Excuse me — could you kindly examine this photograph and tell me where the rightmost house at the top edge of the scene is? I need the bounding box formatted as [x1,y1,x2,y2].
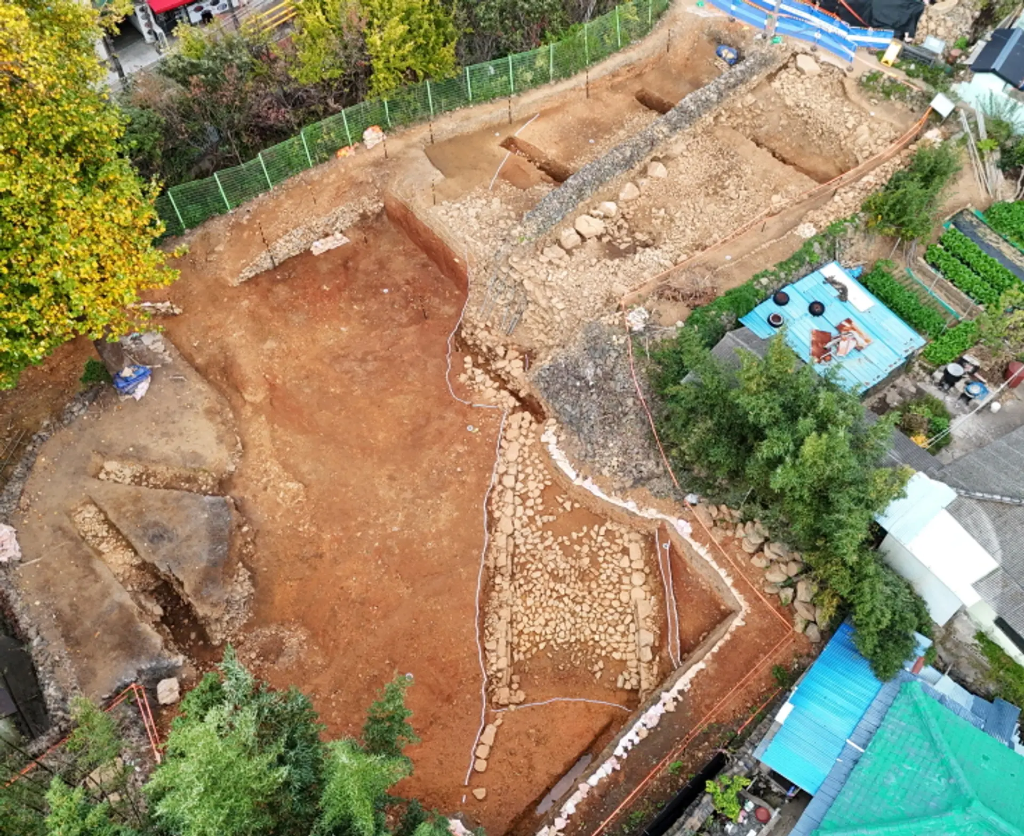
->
[969,22,1024,110]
